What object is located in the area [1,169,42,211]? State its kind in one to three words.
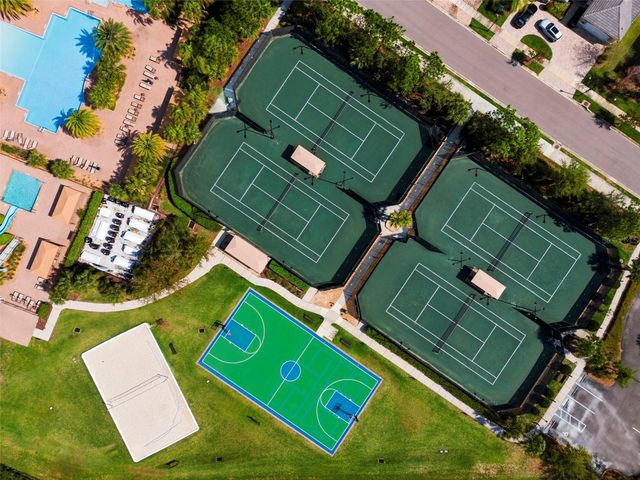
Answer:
swimming pool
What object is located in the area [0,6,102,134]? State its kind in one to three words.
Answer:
swimming pool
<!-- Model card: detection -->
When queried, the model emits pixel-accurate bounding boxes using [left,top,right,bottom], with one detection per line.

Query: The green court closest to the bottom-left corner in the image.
[198,288,382,456]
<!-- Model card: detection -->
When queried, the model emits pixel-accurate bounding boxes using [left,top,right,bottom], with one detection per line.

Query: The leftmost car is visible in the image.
[511,4,536,29]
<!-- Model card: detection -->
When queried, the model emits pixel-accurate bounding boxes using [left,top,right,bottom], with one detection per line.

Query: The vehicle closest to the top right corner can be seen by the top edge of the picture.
[538,21,564,42]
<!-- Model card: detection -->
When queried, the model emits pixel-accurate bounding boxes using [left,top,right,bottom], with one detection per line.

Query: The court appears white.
[81,323,199,463]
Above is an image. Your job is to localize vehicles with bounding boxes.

[538,21,564,42]
[511,4,536,29]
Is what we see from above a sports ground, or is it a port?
sports ground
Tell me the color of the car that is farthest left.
black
